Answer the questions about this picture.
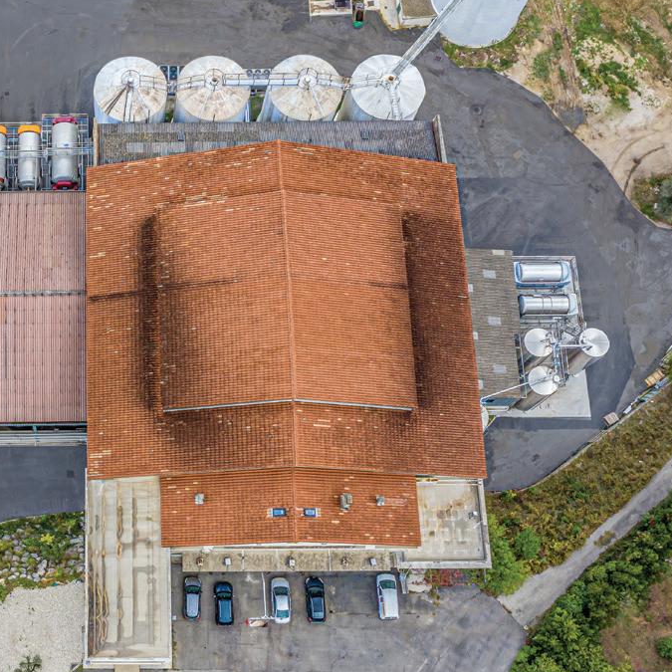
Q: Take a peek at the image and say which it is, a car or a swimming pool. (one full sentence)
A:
The one in the frame is a car.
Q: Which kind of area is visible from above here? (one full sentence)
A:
It's an industrial area.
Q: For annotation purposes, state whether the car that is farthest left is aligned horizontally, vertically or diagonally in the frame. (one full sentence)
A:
In this picture, the car that is farthest left is oriented vertically.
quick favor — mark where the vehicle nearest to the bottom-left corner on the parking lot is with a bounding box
[181,577,202,621]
